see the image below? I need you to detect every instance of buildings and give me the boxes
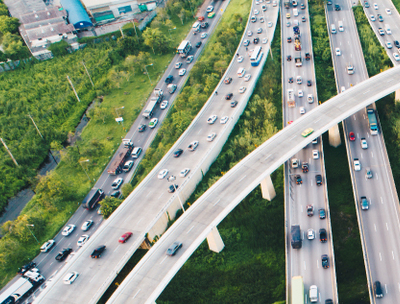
[2,0,75,59]
[82,0,155,29]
